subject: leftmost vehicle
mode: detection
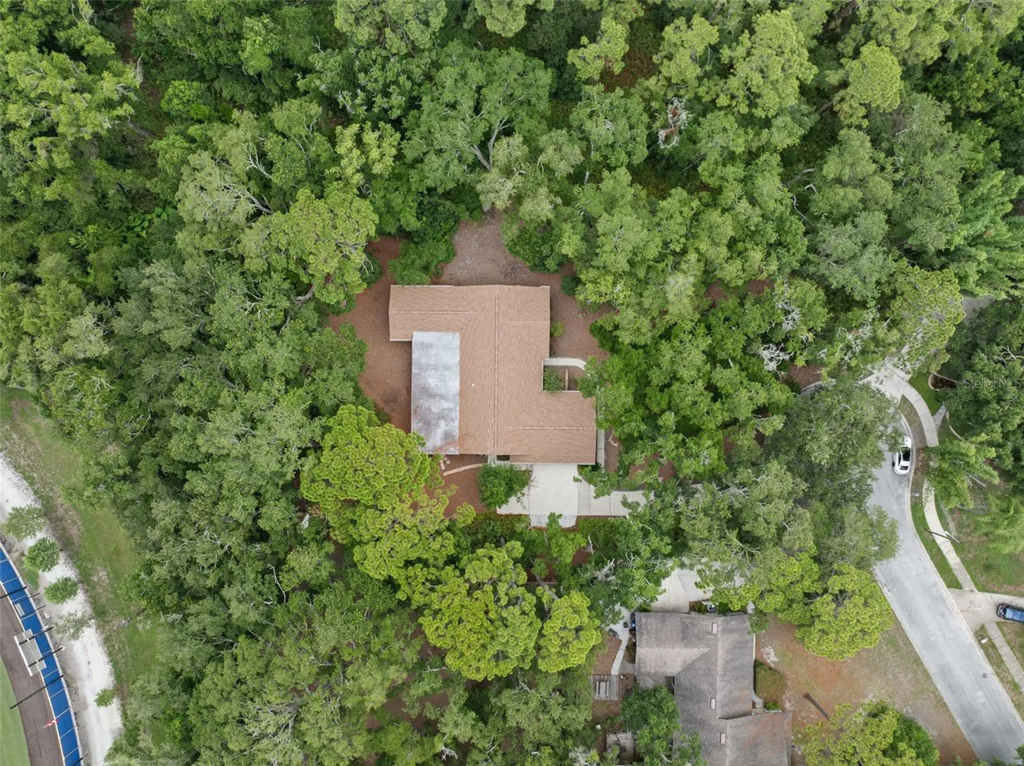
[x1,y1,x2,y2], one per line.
[894,435,917,475]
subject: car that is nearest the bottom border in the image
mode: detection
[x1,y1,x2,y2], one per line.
[999,603,1024,625]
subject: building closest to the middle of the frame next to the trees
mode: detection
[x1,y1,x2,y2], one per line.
[388,283,598,464]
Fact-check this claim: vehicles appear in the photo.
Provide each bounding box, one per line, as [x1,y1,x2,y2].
[999,603,1024,625]
[894,435,917,475]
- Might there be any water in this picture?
No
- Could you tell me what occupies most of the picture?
trees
